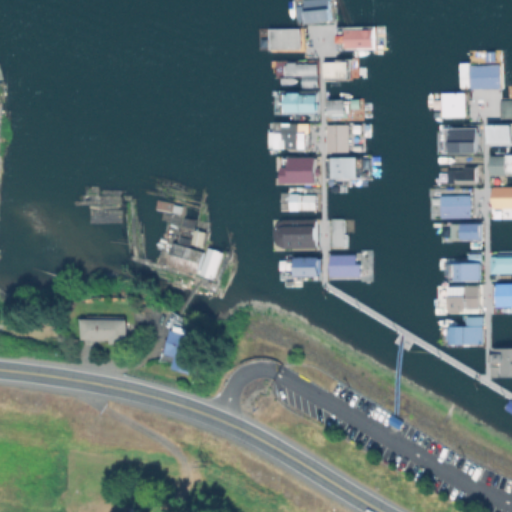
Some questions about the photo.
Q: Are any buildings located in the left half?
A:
Yes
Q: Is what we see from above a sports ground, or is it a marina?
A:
marina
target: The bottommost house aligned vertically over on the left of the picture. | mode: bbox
[160,313,187,373]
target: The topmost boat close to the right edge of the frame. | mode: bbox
[460,50,506,90]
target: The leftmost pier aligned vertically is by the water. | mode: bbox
[128,196,145,258]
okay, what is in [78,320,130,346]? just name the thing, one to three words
house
